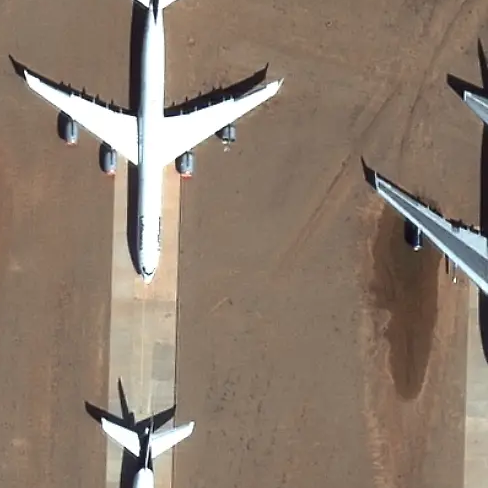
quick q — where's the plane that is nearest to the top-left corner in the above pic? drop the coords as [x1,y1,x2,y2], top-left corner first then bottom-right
[26,0,283,284]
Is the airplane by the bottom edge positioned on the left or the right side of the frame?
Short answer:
left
